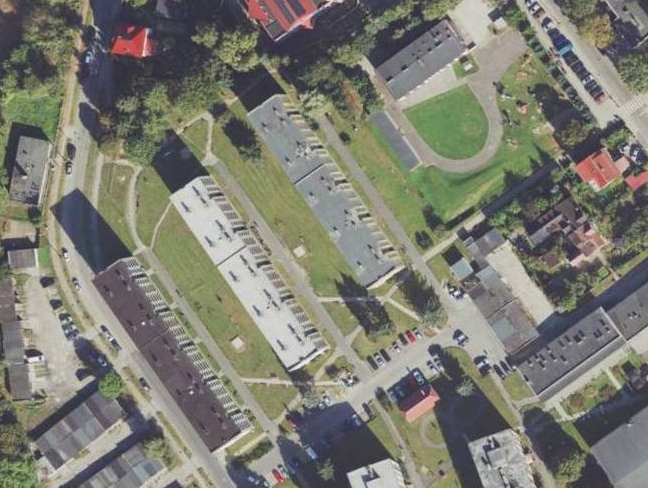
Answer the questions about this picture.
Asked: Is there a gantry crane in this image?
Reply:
No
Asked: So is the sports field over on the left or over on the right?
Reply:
right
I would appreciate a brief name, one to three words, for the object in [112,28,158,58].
house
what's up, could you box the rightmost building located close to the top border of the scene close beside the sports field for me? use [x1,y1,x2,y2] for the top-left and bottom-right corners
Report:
[378,20,466,96]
